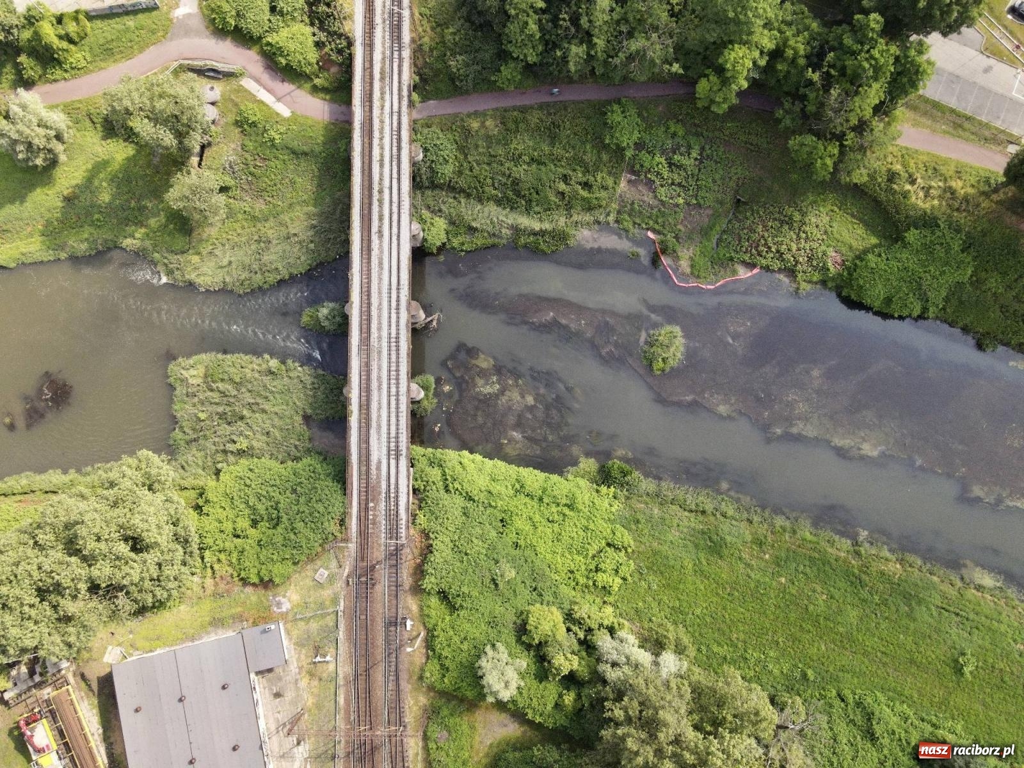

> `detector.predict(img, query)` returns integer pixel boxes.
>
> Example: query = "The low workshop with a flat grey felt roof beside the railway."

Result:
[111,616,293,768]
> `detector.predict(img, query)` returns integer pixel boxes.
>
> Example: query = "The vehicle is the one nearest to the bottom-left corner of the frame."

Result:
[15,710,68,768]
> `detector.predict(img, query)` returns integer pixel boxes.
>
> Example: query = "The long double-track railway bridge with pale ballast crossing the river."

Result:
[343,0,427,542]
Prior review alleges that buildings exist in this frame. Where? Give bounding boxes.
[111,616,293,768]
[23,0,162,19]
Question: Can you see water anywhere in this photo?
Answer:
Yes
